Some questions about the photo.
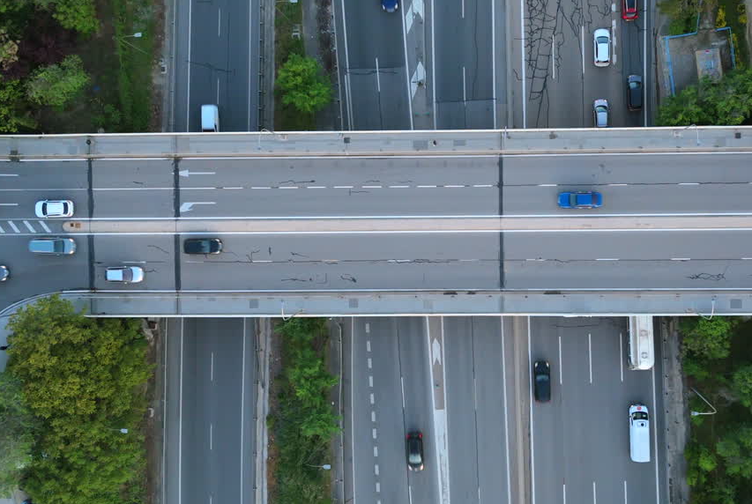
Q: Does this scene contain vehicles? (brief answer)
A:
Yes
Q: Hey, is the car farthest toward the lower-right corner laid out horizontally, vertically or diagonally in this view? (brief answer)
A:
vertically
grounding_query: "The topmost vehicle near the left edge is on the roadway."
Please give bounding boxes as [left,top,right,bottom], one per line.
[37,197,76,218]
